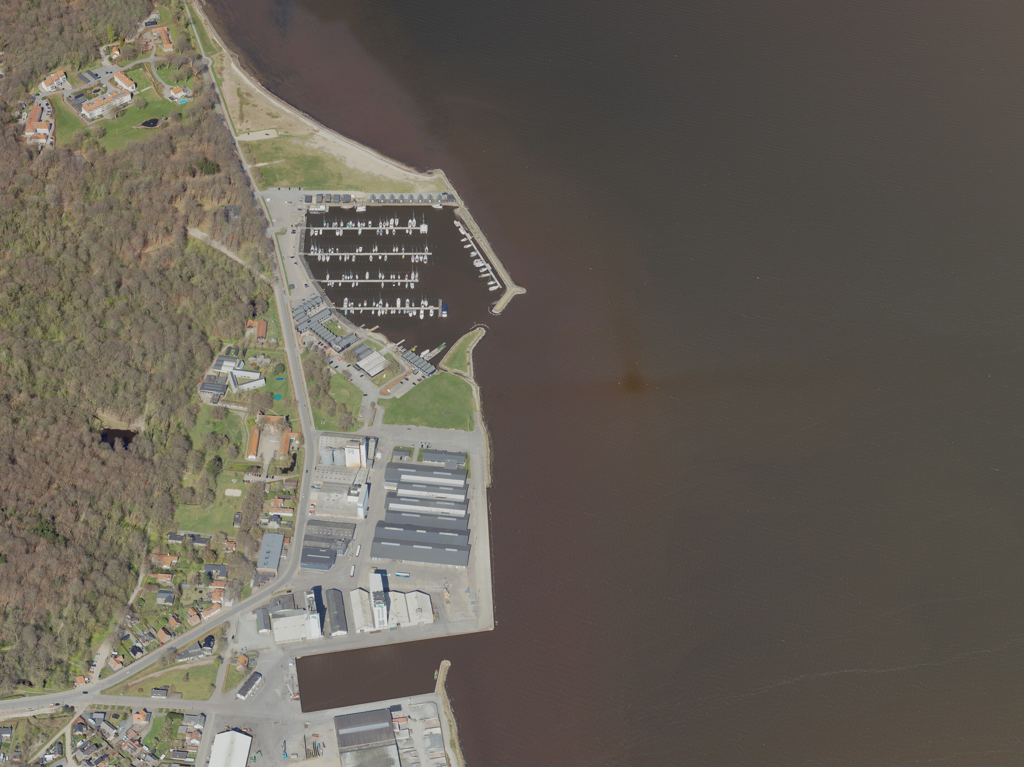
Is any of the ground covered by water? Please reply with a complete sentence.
Yes, water shows up in the scene.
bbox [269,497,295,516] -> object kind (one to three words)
house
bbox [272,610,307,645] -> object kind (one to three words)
building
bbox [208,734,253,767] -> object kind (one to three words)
building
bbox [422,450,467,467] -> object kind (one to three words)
house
